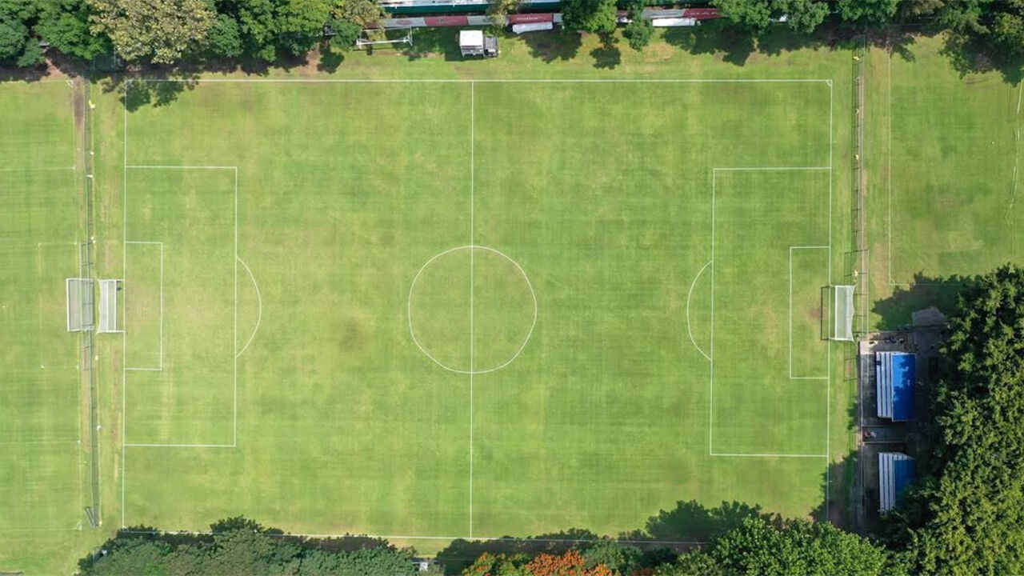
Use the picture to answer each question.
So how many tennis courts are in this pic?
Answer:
none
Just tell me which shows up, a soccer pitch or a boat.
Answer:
soccer pitch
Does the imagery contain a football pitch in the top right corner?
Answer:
Yes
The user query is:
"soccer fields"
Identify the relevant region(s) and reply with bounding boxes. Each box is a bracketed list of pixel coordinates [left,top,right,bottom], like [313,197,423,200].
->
[110,68,846,561]
[0,80,103,539]
[889,25,1024,285]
